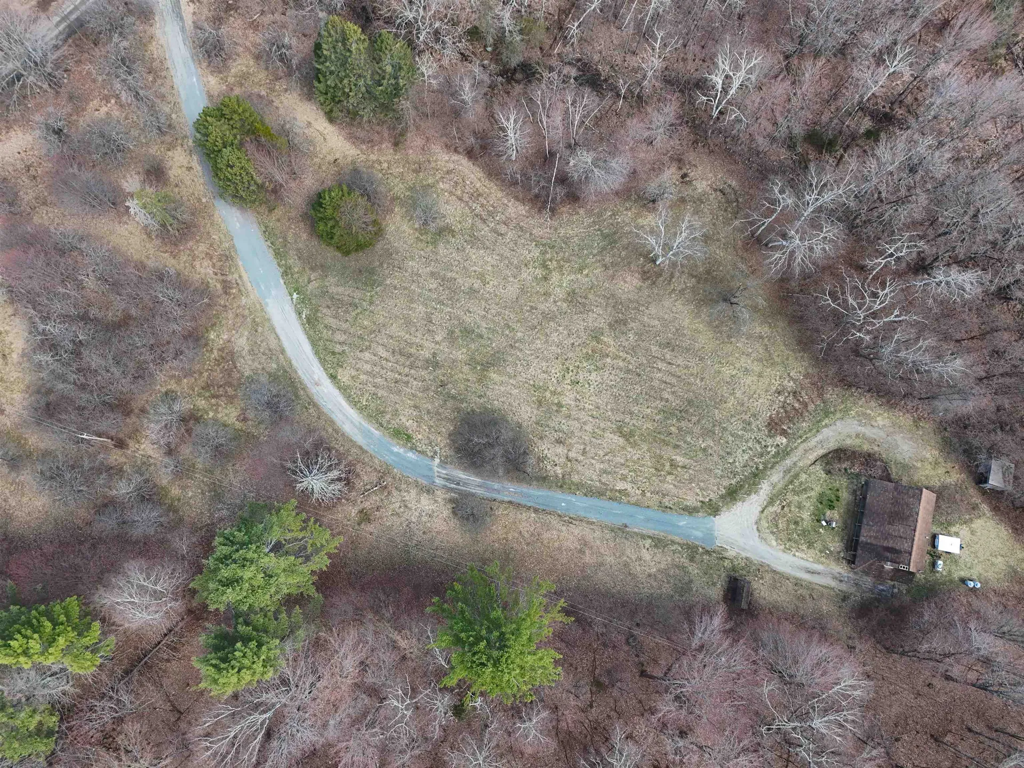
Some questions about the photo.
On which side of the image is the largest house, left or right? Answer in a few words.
right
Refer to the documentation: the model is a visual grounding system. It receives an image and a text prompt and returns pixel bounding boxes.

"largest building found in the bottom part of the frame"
[837,478,936,585]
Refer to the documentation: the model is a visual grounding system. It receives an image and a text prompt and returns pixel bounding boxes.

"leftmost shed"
[726,573,751,610]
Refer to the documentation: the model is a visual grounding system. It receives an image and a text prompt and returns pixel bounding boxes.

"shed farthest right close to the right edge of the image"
[964,460,1014,488]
